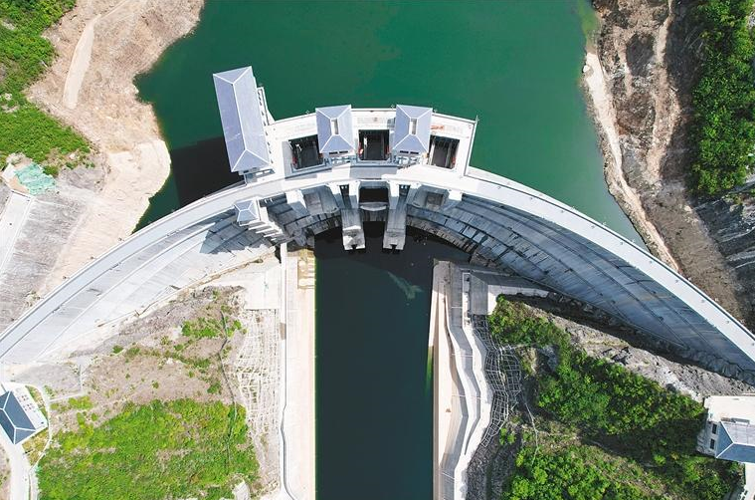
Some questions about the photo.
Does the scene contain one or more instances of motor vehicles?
No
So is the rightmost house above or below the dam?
below it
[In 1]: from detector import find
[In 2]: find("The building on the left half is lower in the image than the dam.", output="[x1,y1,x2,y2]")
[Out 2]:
[0,391,41,445]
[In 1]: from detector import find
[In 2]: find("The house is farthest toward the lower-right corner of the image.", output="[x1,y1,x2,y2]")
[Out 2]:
[693,414,755,463]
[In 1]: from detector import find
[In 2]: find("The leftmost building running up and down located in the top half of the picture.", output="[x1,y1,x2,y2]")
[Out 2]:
[213,66,280,183]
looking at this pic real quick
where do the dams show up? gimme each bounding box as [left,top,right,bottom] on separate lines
[0,85,755,381]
